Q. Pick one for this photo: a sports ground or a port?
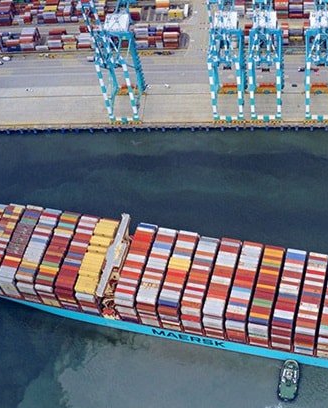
port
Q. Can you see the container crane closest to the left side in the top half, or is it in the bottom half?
top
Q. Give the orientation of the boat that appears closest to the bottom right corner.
up and down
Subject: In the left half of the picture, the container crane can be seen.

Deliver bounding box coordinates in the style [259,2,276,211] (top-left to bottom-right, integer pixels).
[83,0,145,121]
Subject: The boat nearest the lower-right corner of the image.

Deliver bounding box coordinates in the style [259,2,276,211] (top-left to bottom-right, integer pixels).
[277,361,300,405]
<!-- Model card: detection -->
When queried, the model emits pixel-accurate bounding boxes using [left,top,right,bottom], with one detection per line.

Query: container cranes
[302,0,328,121]
[207,0,247,121]
[83,0,145,121]
[248,0,283,121]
